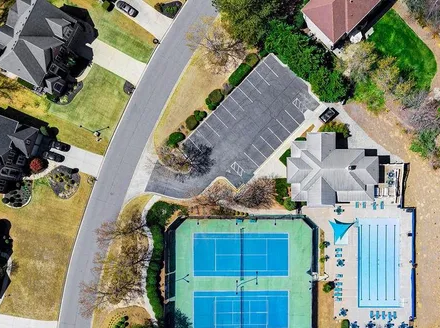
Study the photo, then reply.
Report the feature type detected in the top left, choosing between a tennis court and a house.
house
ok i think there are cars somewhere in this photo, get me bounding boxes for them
[47,141,68,152]
[319,107,336,122]
[41,150,62,162]
[116,0,136,16]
